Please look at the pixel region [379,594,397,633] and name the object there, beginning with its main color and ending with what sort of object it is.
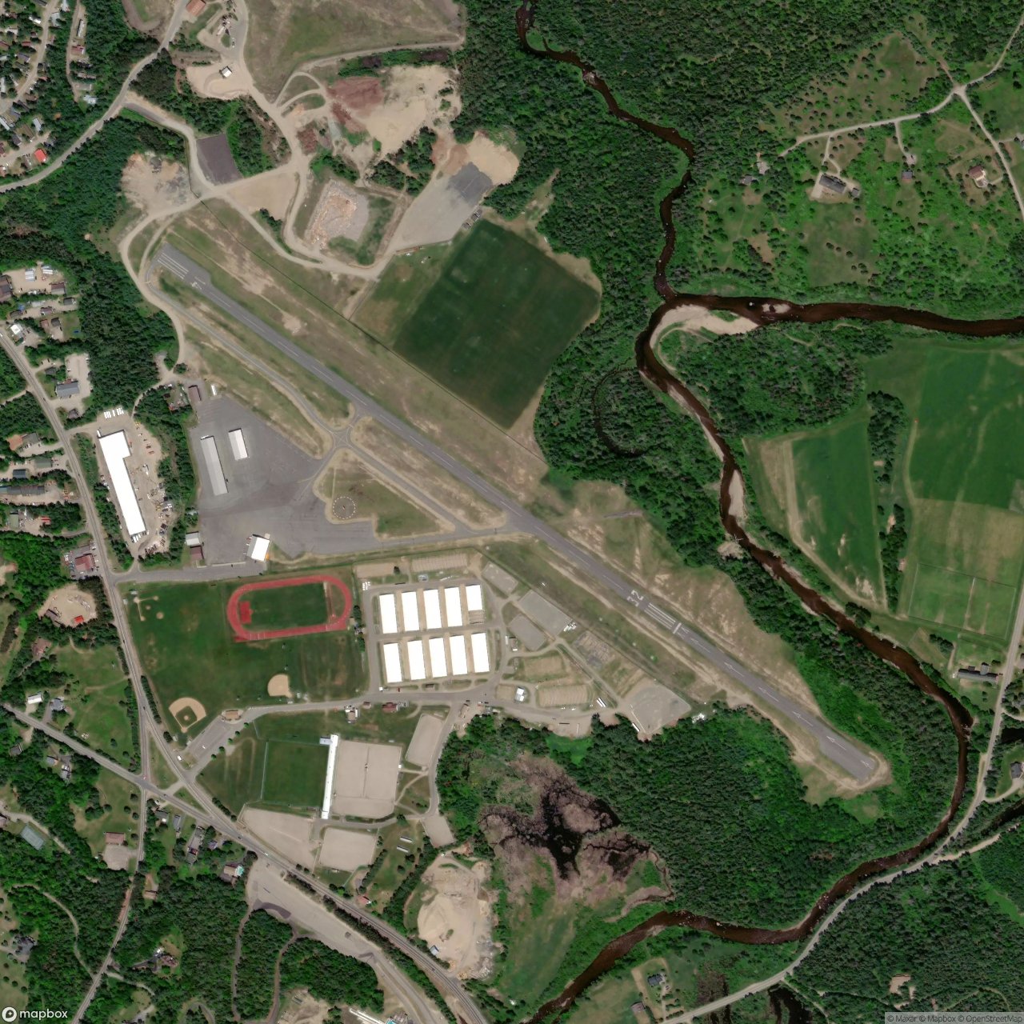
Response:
white tent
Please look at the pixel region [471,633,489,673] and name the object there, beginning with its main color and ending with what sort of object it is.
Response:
white tent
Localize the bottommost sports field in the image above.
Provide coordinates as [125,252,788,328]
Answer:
[262,743,330,803]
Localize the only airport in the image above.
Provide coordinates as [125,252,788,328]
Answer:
[113,243,875,781]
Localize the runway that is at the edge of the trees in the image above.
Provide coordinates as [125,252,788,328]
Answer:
[153,243,875,781]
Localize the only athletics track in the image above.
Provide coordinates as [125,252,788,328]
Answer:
[228,575,352,642]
